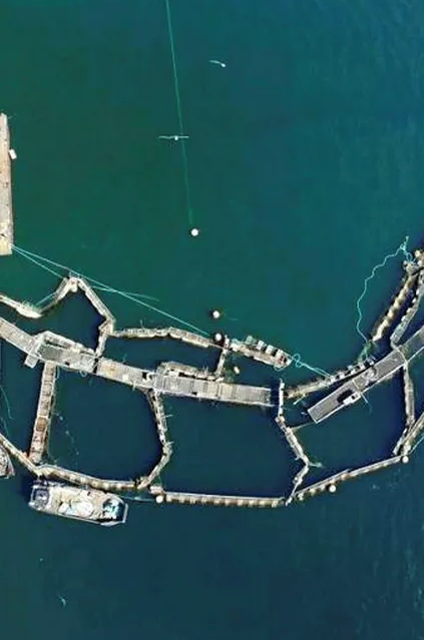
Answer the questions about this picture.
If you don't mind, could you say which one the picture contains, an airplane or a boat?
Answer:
boat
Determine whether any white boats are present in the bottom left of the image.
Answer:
Yes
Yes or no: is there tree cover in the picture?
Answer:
No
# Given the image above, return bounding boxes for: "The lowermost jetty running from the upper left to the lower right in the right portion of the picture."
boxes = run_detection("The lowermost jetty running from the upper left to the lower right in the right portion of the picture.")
[276,416,310,465]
